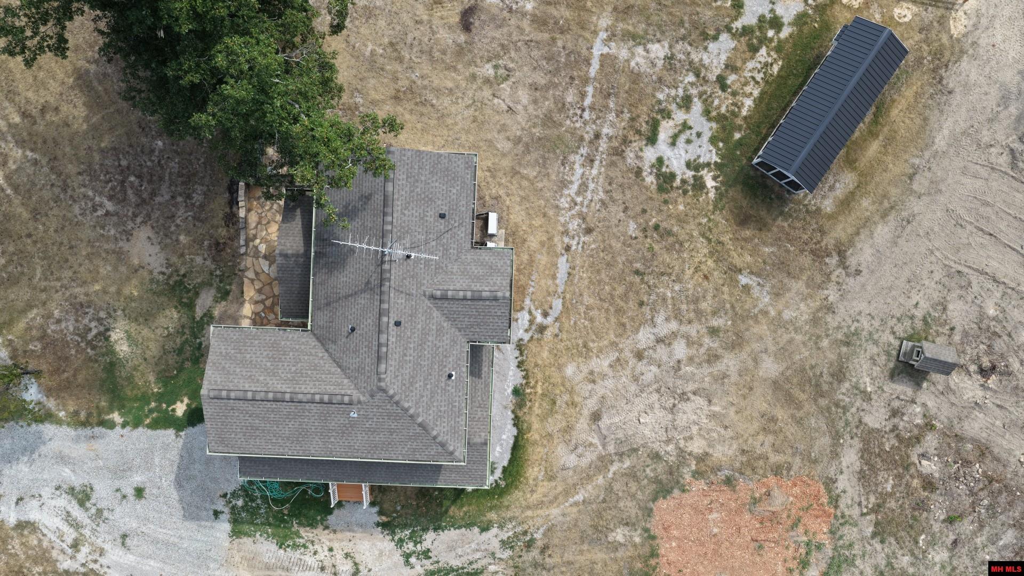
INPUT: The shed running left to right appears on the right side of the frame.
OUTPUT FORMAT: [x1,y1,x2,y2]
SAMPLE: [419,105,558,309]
[896,339,961,375]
